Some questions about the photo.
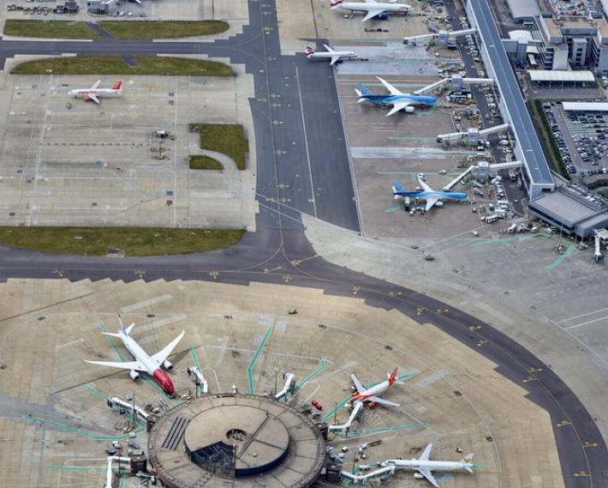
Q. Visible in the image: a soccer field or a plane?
plane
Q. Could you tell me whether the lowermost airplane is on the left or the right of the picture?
right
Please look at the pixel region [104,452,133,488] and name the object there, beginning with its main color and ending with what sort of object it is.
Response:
white jet bridge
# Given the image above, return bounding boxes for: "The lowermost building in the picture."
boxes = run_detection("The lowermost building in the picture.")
[130,395,341,488]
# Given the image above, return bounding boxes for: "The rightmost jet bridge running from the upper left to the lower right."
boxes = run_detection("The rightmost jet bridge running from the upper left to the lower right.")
[186,365,211,397]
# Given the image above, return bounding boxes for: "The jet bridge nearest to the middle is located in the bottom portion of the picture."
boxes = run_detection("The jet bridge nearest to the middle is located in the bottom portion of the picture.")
[272,370,293,402]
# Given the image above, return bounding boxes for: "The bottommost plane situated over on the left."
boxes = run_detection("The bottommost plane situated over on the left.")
[90,311,187,391]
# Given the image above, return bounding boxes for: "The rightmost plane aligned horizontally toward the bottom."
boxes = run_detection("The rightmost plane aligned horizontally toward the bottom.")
[381,441,474,486]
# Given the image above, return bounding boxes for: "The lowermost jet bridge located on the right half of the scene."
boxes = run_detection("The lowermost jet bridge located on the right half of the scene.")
[340,464,398,487]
